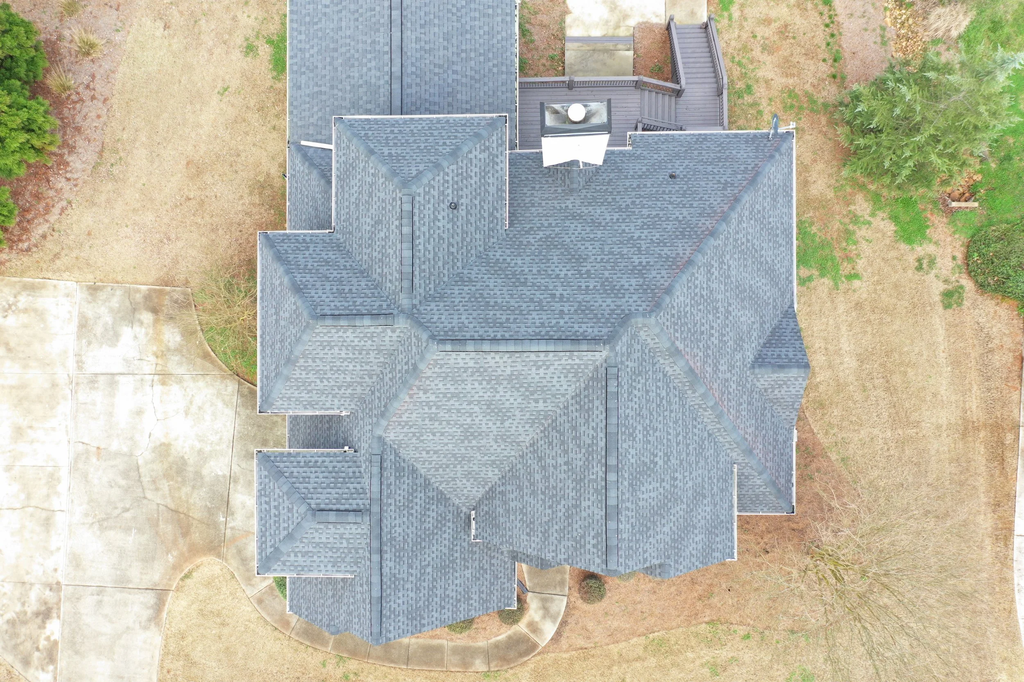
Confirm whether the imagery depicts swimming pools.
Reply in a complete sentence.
No, the photo shows no swimming pool.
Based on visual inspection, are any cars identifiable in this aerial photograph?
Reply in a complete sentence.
No, this view has no car in it.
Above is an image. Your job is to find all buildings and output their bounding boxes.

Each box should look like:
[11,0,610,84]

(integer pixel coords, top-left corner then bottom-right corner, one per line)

[253,0,809,647]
